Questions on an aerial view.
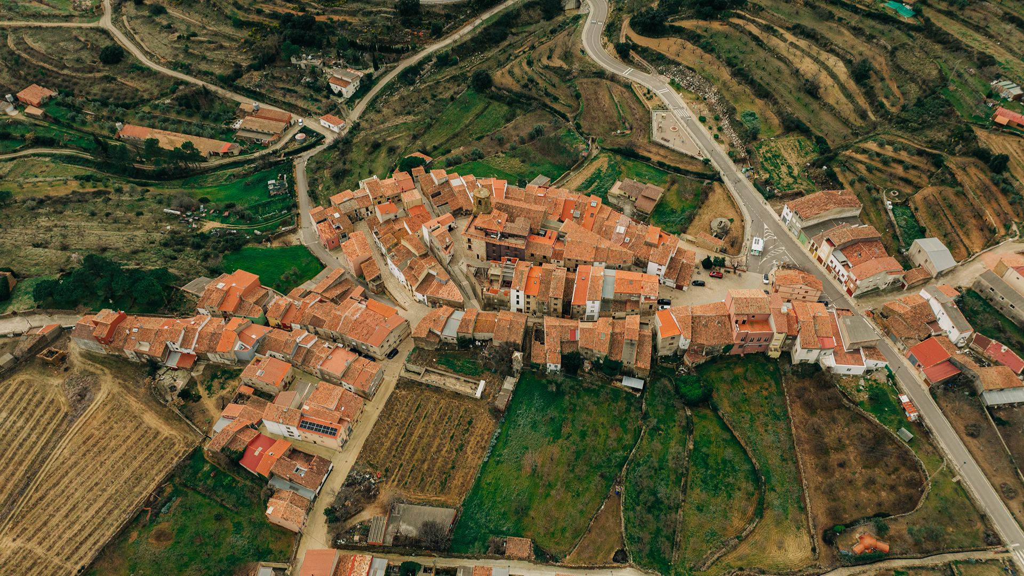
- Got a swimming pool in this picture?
No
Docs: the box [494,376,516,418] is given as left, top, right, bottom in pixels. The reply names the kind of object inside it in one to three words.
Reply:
shed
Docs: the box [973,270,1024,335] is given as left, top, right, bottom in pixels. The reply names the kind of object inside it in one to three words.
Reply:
building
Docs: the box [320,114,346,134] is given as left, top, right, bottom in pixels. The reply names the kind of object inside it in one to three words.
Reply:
house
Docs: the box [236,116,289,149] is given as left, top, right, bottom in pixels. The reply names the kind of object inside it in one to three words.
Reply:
barn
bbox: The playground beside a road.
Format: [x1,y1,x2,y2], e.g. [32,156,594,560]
[652,110,702,157]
